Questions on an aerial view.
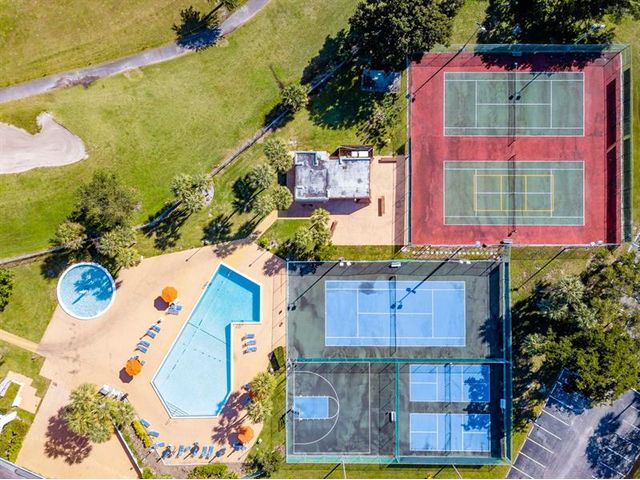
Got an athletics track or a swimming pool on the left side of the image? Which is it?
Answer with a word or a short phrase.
swimming pool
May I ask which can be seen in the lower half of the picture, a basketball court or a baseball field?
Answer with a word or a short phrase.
basketball court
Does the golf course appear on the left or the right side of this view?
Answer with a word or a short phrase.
left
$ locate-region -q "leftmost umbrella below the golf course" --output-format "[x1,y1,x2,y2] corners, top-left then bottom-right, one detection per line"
[125,358,142,375]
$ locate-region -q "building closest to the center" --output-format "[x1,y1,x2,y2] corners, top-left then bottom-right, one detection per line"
[296,152,371,202]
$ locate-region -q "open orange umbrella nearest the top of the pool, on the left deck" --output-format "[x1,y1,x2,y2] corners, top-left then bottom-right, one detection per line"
[161,286,178,302]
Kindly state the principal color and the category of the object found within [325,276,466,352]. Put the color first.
blue tennis court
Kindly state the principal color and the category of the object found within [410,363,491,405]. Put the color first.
blue sports court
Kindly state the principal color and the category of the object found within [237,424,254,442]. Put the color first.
orange umbrella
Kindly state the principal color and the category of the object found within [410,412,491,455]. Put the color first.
blue sports court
